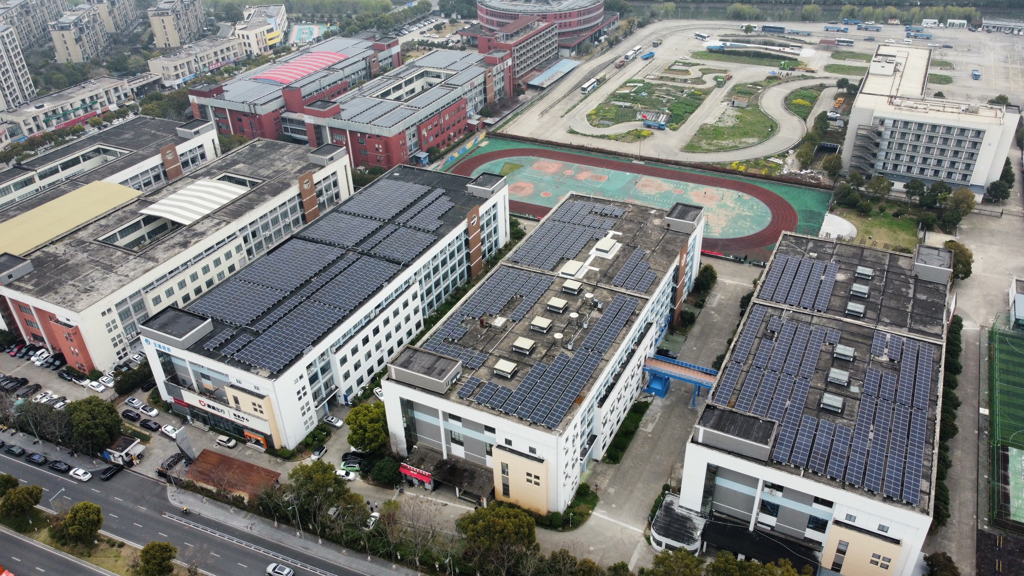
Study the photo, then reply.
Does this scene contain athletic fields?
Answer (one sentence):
Yes, looking at the shot, I can spot an athletic field.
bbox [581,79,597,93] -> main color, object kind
white vehicle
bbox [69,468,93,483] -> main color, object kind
white car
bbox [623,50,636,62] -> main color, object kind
white vehicle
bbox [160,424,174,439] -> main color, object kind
white car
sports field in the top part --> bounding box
[433,135,832,270]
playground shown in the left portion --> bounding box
[284,25,340,44]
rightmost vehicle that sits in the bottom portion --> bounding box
[656,346,678,361]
